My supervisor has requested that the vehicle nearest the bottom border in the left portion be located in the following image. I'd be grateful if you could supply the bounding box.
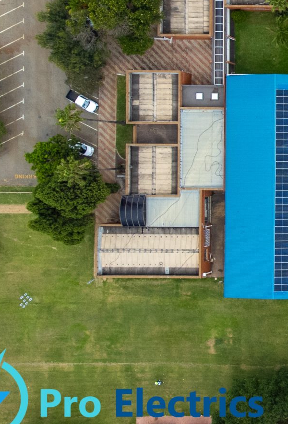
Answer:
[67,138,96,156]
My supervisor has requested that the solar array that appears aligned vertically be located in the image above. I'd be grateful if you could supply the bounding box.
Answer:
[274,86,288,292]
